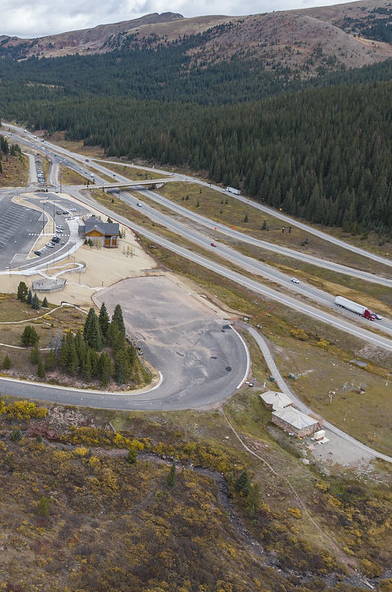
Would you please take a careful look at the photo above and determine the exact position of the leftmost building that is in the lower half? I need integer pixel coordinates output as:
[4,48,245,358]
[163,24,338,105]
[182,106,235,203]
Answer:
[260,390,293,412]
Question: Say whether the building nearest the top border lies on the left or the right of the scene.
left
